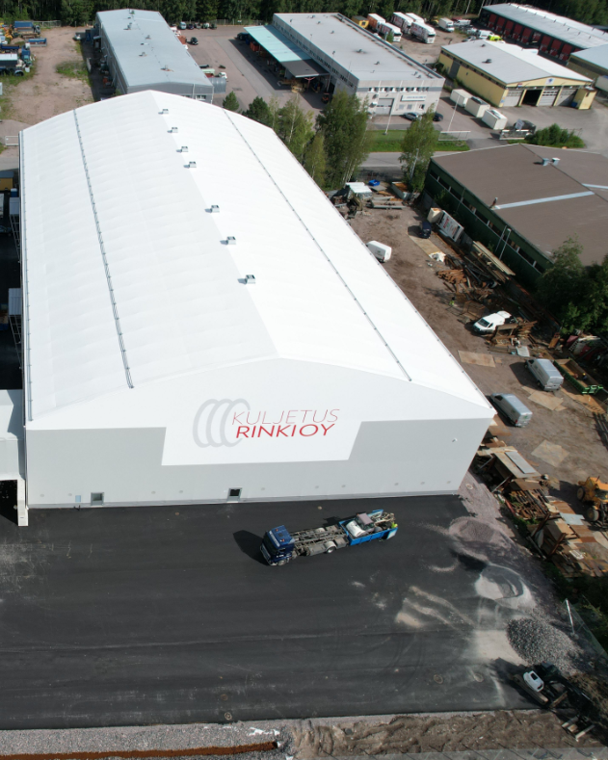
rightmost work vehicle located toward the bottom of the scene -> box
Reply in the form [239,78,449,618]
[569,473,608,515]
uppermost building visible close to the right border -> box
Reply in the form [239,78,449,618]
[485,0,608,68]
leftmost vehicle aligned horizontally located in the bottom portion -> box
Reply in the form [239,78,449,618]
[259,521,351,564]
